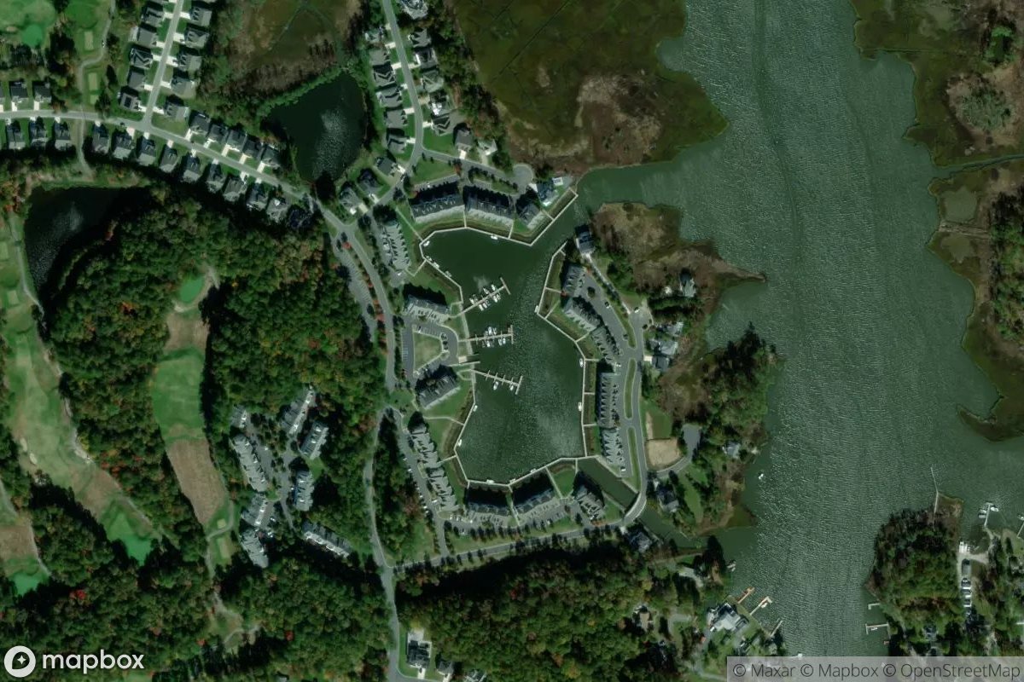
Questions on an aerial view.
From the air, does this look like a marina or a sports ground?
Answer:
marina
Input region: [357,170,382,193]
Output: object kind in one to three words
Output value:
house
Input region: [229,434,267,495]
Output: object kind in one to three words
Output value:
building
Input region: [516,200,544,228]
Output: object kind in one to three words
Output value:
building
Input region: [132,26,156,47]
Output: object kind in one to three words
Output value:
house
